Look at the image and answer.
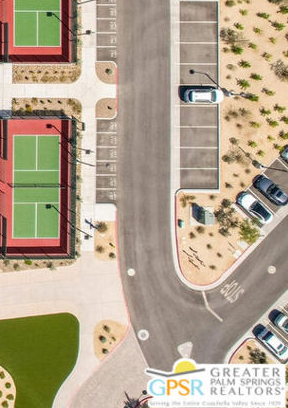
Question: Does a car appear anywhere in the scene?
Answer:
Yes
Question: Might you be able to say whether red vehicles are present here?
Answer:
No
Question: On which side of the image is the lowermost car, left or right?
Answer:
right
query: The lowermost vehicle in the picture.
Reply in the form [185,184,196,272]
[253,325,288,357]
